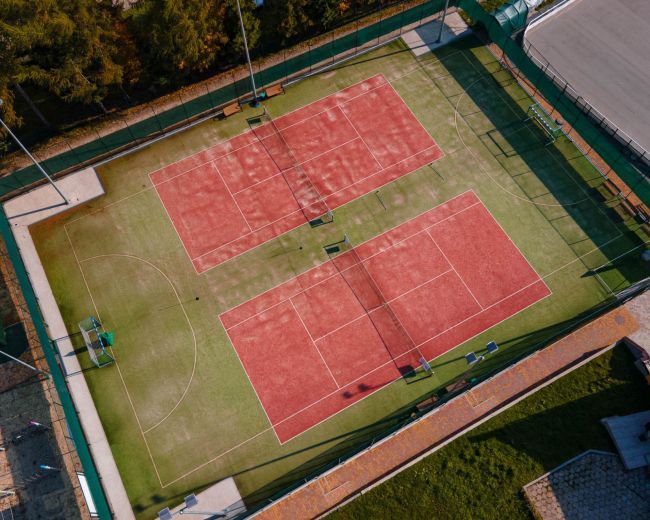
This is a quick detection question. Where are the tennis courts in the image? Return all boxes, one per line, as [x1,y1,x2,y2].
[219,190,551,443]
[150,74,444,273]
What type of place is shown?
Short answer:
sports ground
